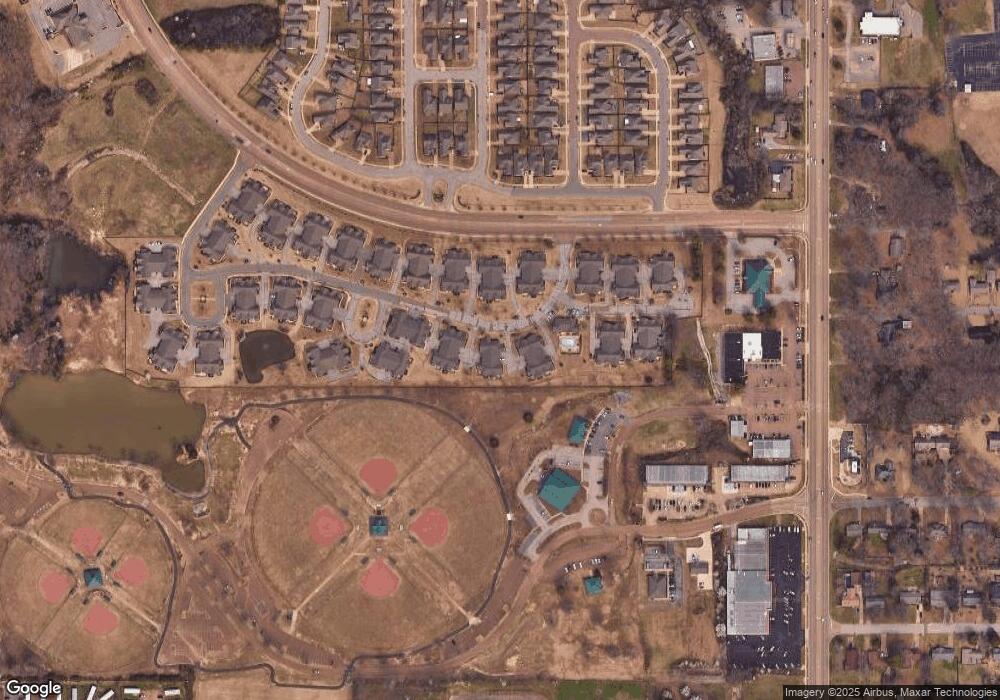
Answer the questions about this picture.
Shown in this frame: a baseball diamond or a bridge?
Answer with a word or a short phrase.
baseball diamond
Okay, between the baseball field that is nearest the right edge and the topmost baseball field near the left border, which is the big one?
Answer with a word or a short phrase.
the baseball field that is nearest the right edge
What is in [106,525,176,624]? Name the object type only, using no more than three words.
baseball field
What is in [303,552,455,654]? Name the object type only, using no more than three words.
baseball field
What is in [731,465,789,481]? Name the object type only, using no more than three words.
building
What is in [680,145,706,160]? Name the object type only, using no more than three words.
house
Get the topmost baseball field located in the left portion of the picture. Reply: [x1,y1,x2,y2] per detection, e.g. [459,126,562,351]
[306,399,450,504]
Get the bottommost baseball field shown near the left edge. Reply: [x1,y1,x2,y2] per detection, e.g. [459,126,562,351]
[44,595,146,669]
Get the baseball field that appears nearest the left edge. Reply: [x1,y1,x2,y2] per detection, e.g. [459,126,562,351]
[2,540,80,641]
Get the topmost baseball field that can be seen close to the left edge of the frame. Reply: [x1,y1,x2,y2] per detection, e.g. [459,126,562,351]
[42,504,127,564]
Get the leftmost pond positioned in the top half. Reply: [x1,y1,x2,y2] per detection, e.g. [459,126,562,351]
[48,232,125,294]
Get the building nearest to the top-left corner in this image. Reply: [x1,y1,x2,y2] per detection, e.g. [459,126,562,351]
[50,4,91,46]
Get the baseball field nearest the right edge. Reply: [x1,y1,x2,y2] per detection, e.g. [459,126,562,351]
[400,457,506,596]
